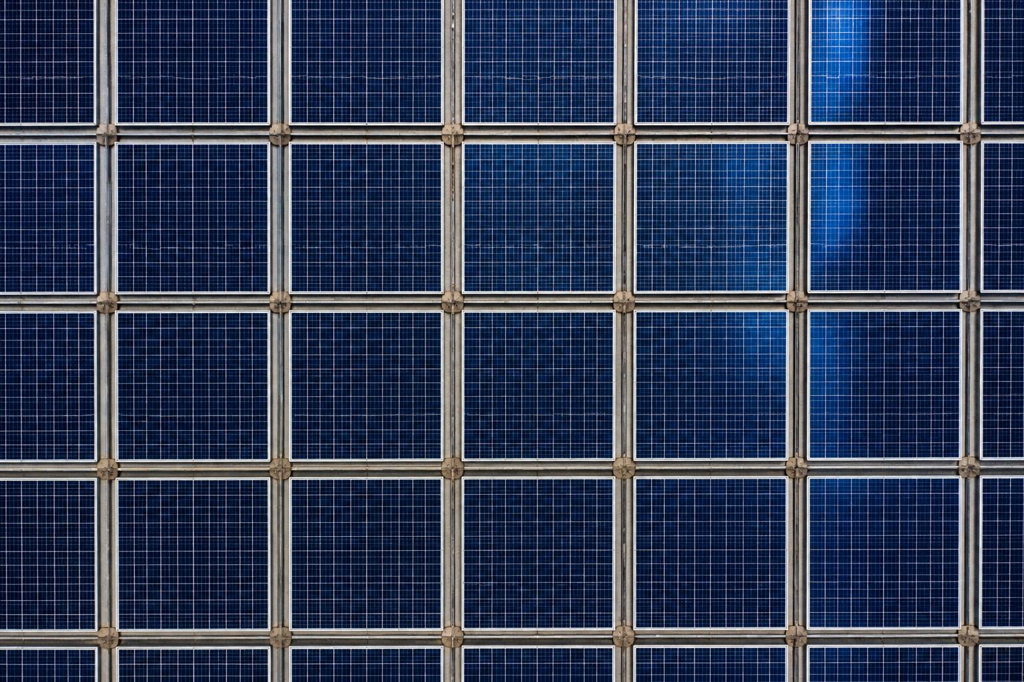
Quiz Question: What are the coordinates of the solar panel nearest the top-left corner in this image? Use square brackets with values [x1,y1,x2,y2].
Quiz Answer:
[0,0,97,126]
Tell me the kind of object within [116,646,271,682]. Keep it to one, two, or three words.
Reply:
solar panel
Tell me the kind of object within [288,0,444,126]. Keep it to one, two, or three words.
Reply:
solar panel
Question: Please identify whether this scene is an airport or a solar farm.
solar farm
